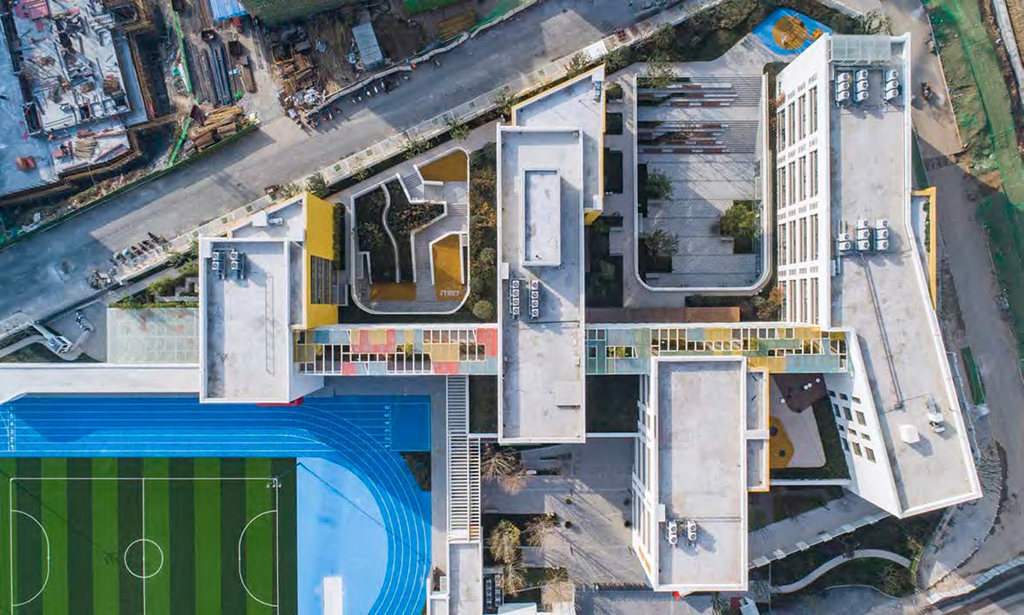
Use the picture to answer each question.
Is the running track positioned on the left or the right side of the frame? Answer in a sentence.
You can find the running track on the left side of the picture.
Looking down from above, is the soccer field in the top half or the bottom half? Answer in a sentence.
The soccer field sits in the bottom half of the picture.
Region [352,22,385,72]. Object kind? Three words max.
shed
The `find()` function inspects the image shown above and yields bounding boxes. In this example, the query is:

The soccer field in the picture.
[0,458,298,615]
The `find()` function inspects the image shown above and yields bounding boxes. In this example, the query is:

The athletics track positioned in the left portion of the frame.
[0,395,430,615]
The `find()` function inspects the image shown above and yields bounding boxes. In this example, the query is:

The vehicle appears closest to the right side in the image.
[921,81,935,101]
